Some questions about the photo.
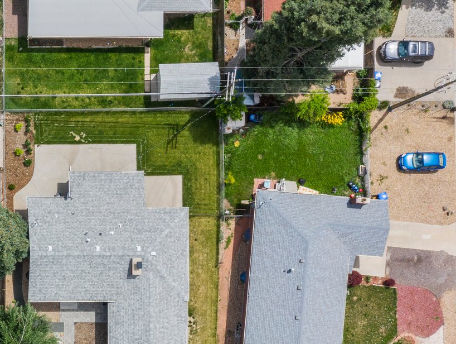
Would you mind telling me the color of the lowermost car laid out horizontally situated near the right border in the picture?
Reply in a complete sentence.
From above, the lowermost car laid out horizontally situated near the right border appears blue.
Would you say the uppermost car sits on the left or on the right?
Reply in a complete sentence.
You can find the uppermost car on the right side of the picture.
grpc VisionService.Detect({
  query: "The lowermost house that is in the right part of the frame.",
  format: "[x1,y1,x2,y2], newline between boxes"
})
[239,189,391,344]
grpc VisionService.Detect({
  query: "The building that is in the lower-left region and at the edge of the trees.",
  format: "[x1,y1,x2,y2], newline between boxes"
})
[26,170,190,344]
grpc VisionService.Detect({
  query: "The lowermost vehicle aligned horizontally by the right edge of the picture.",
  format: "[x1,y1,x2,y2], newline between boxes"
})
[395,149,446,173]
